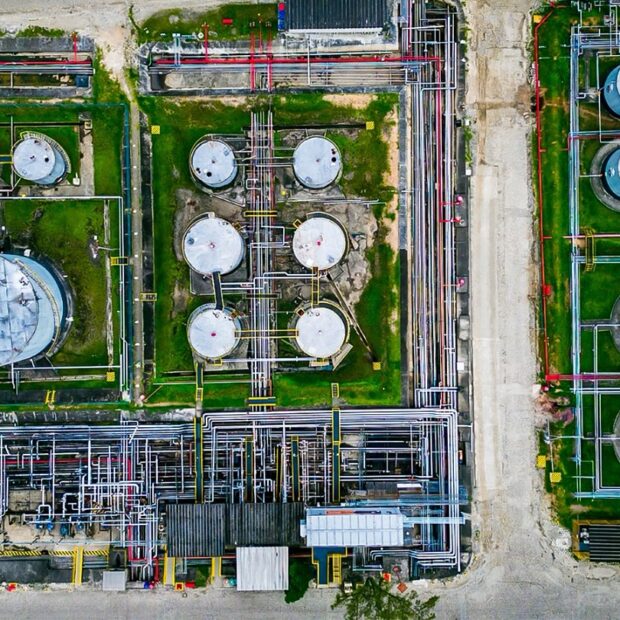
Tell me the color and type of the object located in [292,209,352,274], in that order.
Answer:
white storage tank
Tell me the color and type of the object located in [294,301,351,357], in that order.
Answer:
white storage tank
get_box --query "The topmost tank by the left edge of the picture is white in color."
[12,128,71,187]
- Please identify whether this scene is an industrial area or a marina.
industrial area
